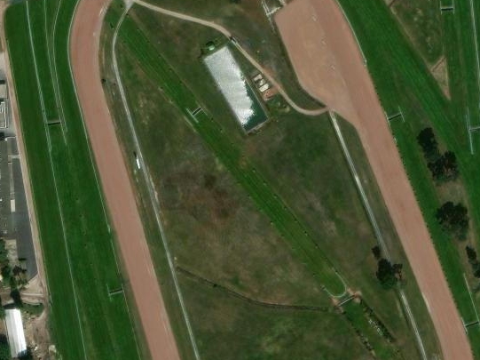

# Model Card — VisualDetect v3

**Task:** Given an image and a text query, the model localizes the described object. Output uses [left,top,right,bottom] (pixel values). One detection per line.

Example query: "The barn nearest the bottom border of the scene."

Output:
[5,308,26,356]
